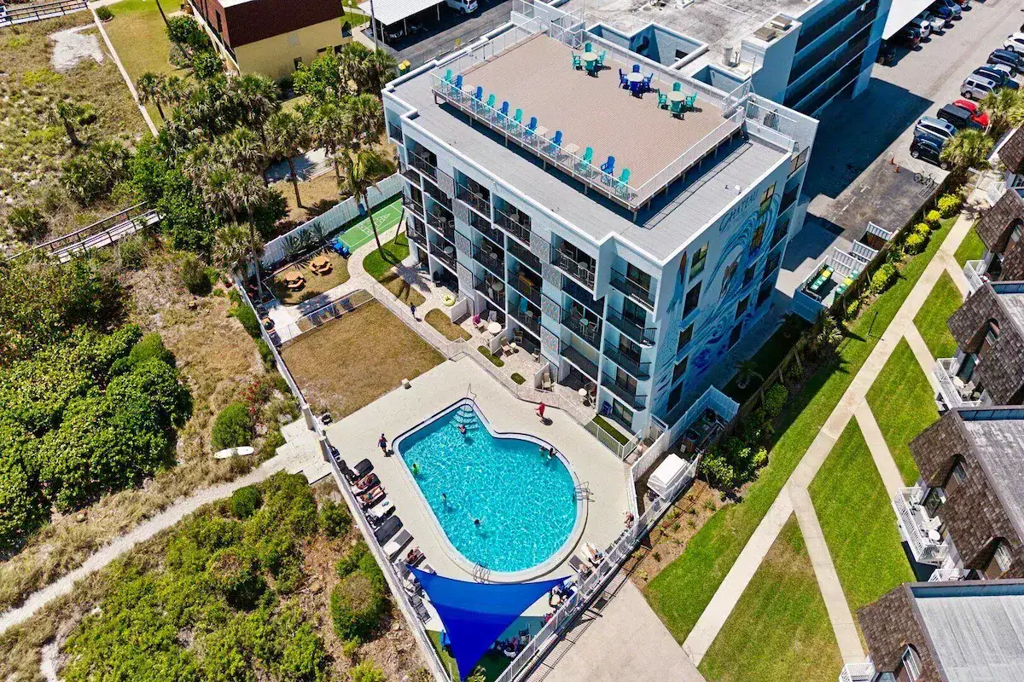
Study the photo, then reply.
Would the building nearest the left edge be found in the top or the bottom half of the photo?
top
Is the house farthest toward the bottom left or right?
right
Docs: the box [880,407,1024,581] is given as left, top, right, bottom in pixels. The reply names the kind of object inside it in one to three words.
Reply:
house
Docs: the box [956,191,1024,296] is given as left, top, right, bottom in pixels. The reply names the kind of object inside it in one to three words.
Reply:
house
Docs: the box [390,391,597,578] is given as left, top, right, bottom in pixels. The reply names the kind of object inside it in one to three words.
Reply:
swimming pool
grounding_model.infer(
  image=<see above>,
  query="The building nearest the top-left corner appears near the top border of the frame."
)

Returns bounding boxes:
[192,0,348,77]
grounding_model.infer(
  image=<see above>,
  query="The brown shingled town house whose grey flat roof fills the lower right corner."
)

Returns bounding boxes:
[831,580,1024,682]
